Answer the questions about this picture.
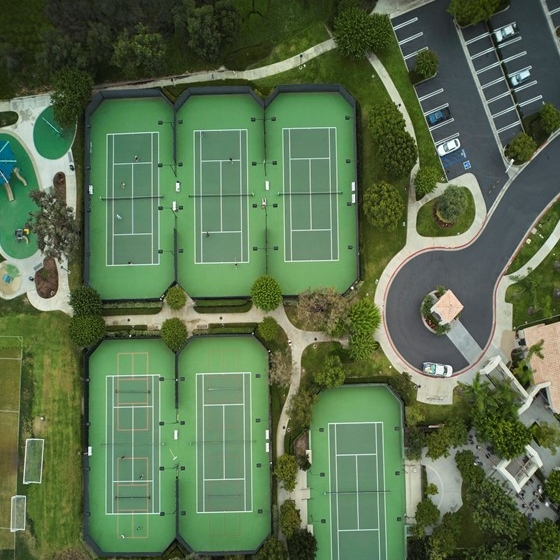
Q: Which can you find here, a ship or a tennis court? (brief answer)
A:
tennis court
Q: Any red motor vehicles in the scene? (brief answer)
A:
No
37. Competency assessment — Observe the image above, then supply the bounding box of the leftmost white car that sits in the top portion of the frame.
[436,137,462,156]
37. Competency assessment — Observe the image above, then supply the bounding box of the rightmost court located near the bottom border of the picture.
[308,385,406,560]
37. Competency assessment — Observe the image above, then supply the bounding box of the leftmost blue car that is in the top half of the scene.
[424,106,450,125]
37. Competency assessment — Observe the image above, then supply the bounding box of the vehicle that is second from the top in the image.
[506,66,532,84]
